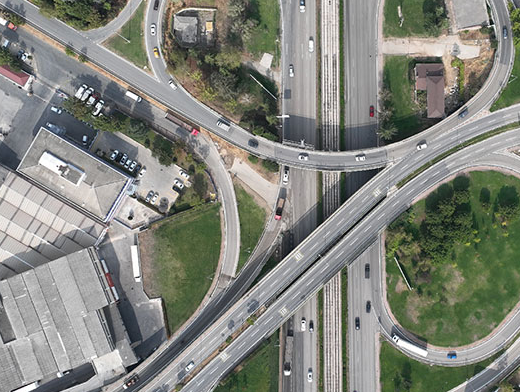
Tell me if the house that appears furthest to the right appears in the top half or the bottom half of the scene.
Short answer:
top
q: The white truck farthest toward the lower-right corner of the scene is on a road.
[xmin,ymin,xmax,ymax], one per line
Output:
[390,333,428,357]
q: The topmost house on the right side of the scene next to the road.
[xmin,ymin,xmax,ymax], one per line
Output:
[449,0,491,33]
